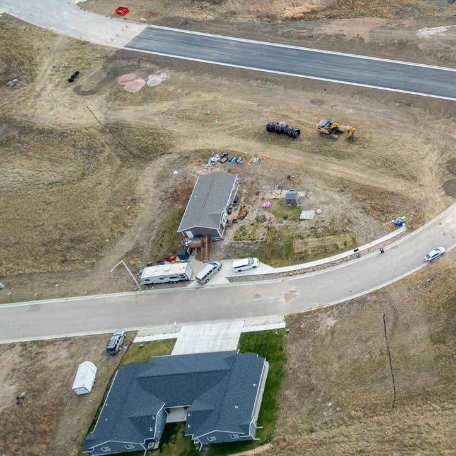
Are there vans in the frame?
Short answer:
Yes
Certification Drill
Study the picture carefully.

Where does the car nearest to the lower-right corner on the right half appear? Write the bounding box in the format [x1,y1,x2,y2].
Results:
[419,243,448,263]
